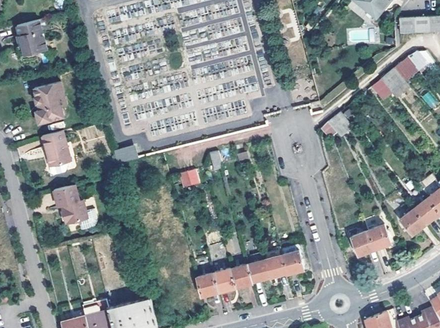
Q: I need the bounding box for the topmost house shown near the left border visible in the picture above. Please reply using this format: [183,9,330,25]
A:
[16,18,48,56]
